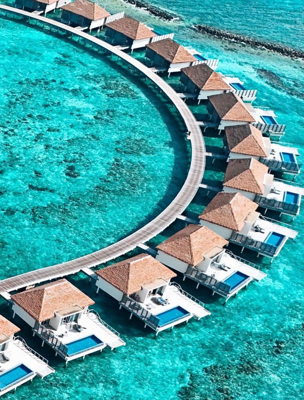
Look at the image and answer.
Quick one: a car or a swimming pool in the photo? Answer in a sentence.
There is a swimming pool in the scene.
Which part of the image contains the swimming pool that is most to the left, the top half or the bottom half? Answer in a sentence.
The bottom half of the photo is where the swimming pool that is most to the left is.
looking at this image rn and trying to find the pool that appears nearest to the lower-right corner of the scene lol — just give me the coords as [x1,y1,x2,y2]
[214,269,250,299]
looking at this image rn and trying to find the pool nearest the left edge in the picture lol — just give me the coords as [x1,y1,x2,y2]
[0,364,34,395]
